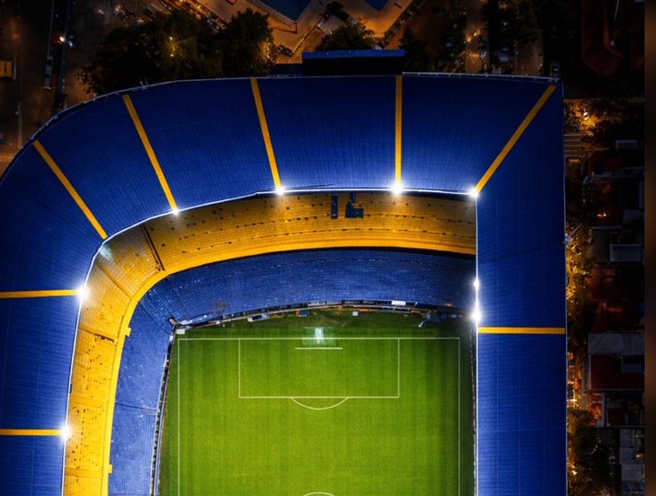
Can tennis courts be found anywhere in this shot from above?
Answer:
No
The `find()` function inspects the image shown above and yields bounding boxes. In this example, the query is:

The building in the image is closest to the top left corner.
[243,0,332,41]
